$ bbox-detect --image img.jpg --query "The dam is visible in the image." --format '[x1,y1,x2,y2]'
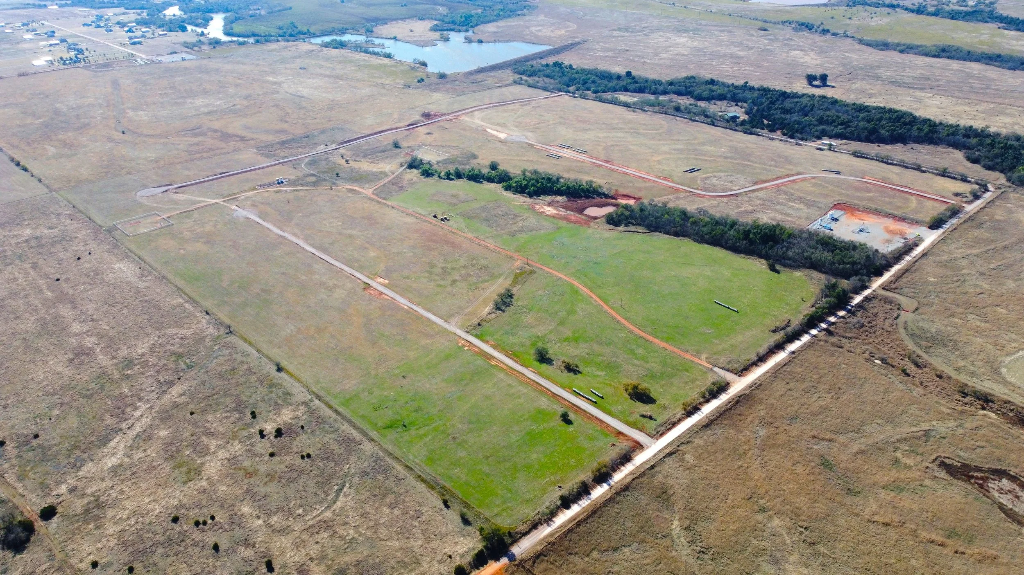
[450,37,593,78]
